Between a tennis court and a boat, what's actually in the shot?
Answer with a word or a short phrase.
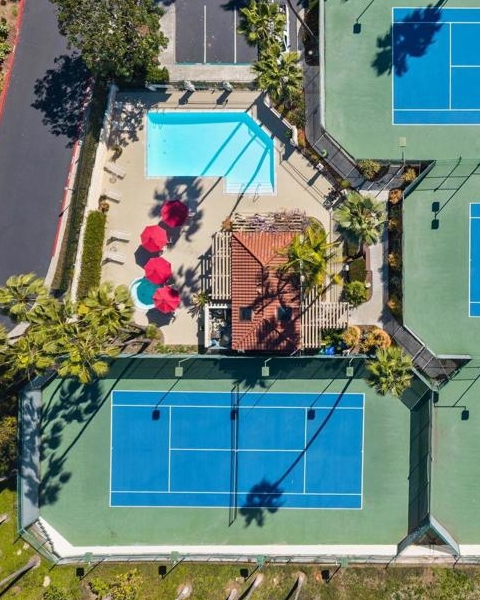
tennis court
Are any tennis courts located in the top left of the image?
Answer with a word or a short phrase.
No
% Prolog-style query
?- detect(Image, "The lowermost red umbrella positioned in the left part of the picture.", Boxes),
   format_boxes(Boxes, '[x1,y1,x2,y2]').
[154,286,180,312]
